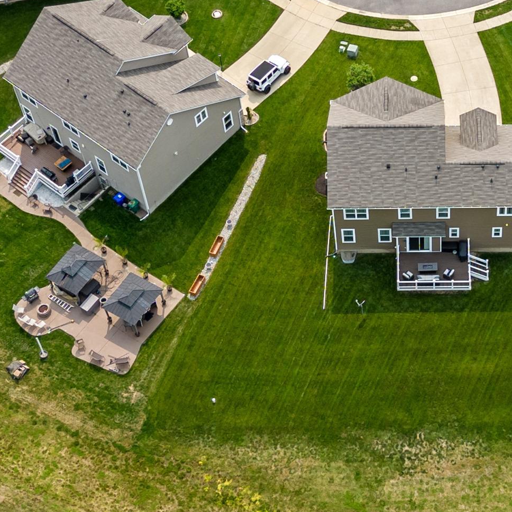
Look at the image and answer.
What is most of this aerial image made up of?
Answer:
grass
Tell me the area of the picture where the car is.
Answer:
top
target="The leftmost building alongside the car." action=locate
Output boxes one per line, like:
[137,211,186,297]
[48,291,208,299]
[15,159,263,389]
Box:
[4,0,248,217]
